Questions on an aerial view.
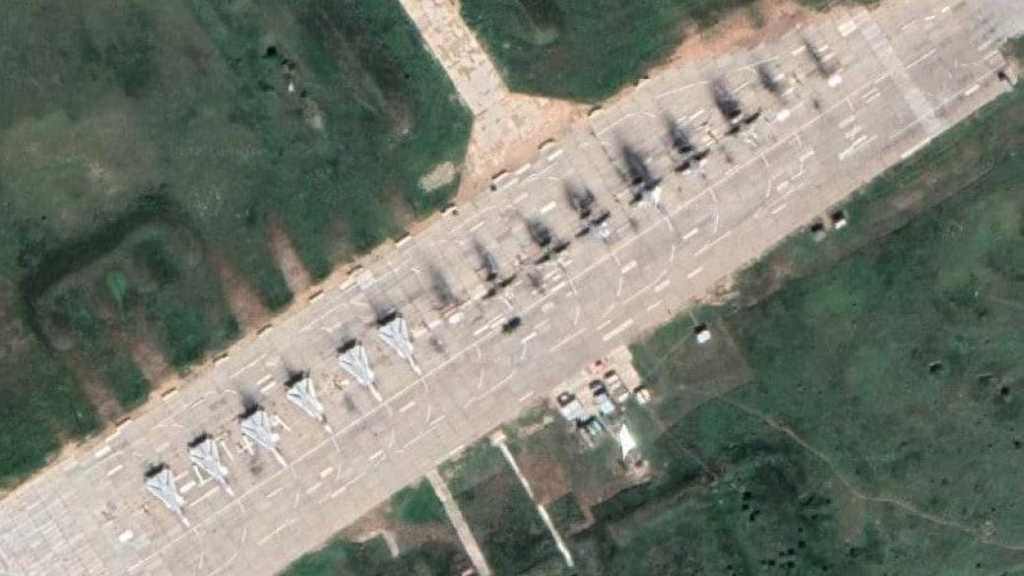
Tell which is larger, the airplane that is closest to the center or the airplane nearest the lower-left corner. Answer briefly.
the airplane nearest the lower-left corner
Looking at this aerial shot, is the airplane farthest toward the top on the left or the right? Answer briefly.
right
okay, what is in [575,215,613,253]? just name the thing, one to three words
airplane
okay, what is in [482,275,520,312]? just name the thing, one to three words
airplane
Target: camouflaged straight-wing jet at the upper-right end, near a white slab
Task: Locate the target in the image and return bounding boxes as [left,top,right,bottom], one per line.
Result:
[725,113,762,150]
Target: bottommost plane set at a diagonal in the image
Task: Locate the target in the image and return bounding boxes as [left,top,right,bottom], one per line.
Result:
[144,468,190,529]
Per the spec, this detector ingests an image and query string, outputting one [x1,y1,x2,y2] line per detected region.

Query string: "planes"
[725,113,762,150]
[378,316,422,376]
[628,179,666,218]
[482,275,520,312]
[338,343,383,404]
[189,437,233,496]
[575,215,613,253]
[674,149,712,186]
[241,409,288,469]
[144,468,190,529]
[534,242,572,279]
[286,376,332,434]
